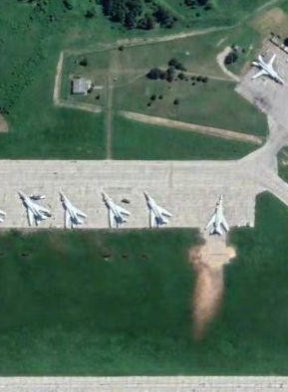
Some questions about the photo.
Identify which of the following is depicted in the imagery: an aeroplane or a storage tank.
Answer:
aeroplane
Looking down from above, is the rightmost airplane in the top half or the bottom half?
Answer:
top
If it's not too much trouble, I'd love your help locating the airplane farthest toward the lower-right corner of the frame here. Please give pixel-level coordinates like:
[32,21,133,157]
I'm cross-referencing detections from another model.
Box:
[204,194,230,237]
